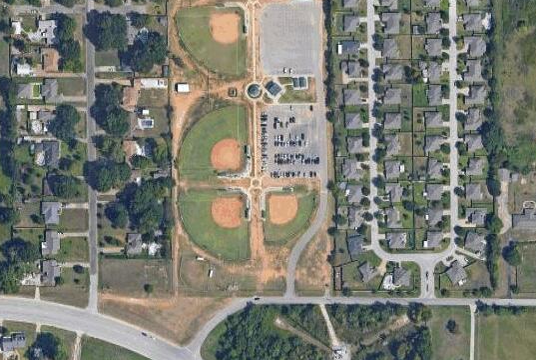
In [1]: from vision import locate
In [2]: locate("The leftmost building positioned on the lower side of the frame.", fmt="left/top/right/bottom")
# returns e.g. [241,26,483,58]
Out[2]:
[2,335,22,350]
